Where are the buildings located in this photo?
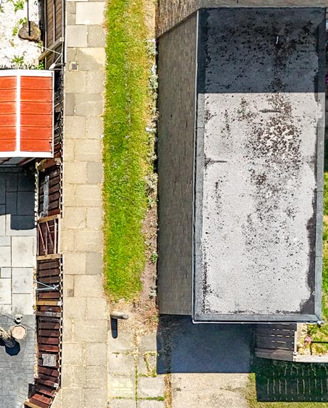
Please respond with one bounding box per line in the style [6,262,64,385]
[158,8,327,327]
[0,67,54,165]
